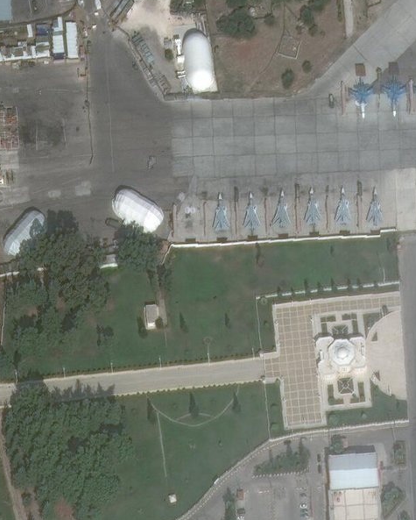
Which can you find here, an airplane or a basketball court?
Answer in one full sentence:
It is an airplane that can be seen here.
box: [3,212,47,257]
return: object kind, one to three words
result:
hangar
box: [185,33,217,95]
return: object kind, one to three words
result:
hangar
